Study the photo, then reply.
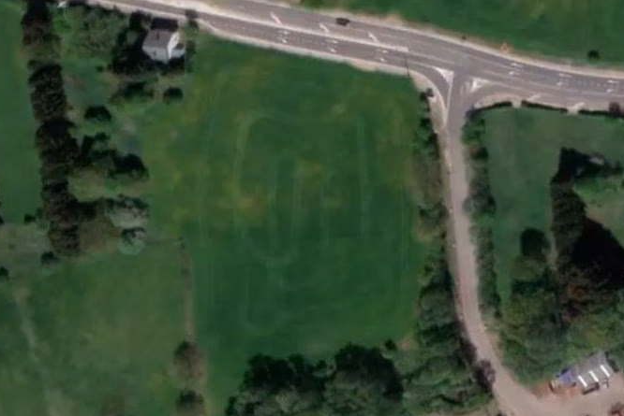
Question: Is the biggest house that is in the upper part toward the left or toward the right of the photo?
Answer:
left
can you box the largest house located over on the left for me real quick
[144,27,184,63]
